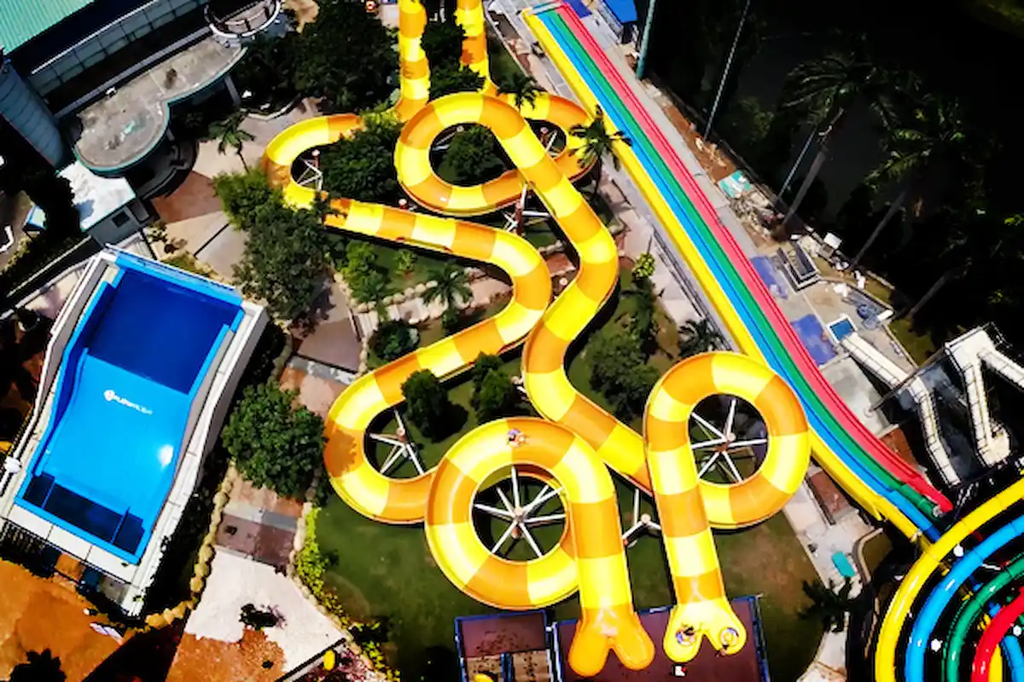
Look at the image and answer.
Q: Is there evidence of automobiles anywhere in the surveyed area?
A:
No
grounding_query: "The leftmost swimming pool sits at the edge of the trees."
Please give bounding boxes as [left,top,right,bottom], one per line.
[0,245,272,614]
